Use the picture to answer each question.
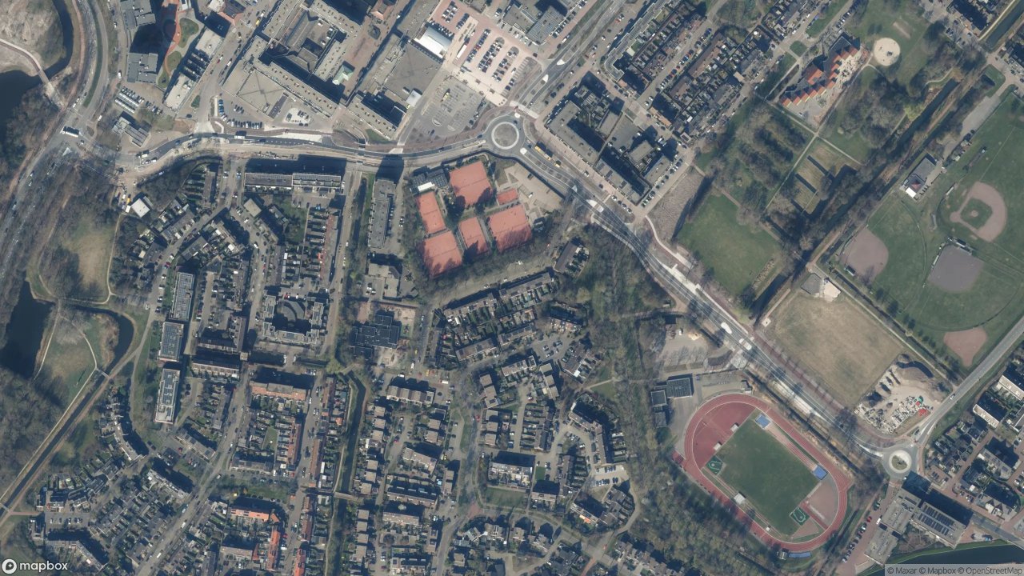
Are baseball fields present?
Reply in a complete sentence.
Yes, there is a baseball field in the image.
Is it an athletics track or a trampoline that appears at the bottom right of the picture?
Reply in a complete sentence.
What appears at the bottom right of the picture is an athletics track.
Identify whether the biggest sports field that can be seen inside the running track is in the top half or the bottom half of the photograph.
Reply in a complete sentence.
It is in the bottom half that the biggest sports field that can be seen inside the running track appears.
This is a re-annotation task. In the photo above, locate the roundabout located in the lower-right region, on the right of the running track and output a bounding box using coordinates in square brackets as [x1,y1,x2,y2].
[880,442,920,482]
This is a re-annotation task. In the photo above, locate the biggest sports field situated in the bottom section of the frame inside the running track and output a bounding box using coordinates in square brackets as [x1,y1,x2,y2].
[720,421,826,533]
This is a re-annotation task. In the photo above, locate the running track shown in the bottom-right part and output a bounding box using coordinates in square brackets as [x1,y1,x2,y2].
[679,388,850,556]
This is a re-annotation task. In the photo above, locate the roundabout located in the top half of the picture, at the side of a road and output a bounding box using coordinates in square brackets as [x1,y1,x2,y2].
[483,113,525,155]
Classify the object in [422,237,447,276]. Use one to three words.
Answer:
tennis court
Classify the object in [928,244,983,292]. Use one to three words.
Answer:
baseball field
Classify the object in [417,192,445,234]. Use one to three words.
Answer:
tennis court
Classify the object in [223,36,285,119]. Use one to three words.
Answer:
building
